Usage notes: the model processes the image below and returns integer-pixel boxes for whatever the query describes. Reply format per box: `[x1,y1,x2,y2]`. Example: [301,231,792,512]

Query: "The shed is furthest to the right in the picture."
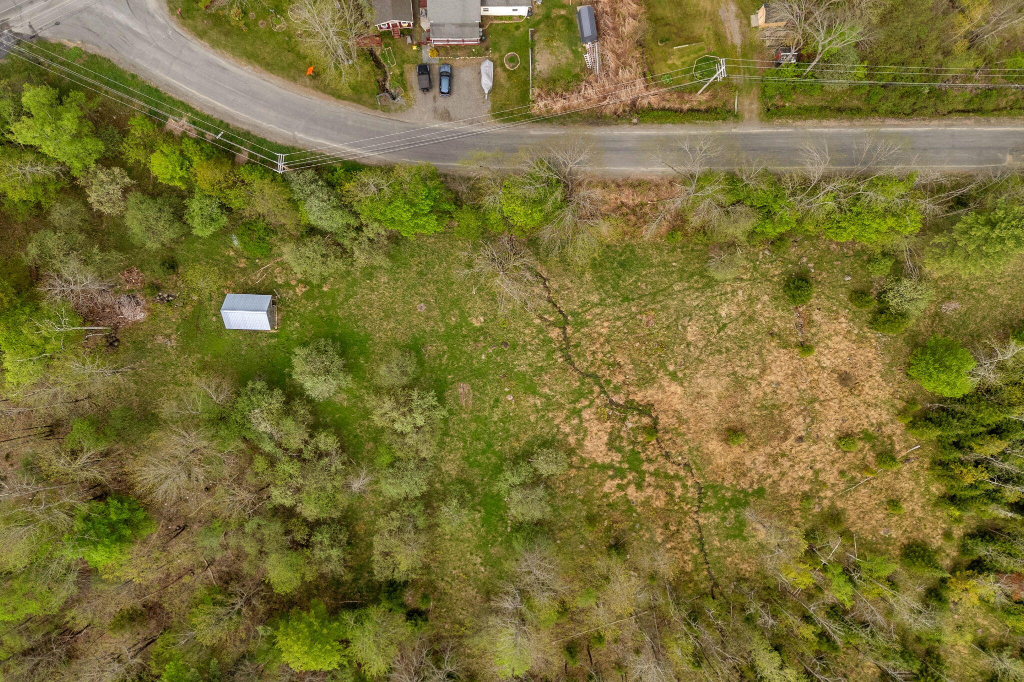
[751,0,799,28]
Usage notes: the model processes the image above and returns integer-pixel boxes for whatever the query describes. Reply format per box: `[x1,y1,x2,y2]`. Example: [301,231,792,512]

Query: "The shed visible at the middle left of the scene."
[222,294,277,330]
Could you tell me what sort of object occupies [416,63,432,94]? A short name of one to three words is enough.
car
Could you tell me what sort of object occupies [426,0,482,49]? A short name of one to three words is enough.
house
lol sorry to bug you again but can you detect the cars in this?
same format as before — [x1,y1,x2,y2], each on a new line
[416,63,432,94]
[437,63,452,96]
